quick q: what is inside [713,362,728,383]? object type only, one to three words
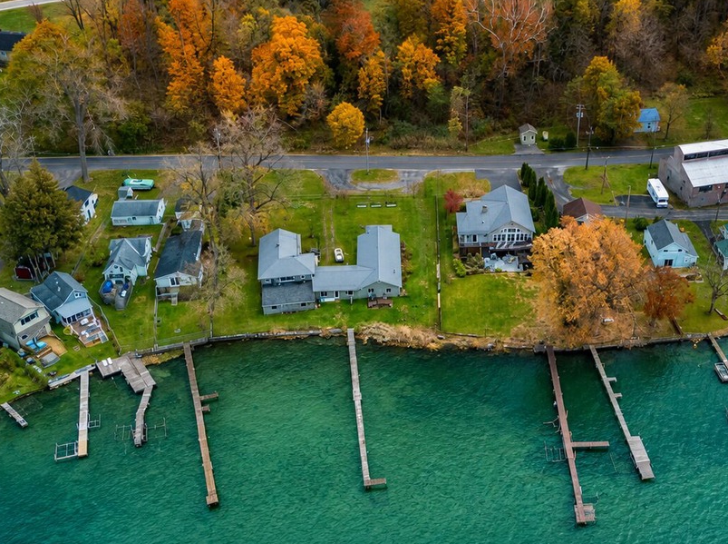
boat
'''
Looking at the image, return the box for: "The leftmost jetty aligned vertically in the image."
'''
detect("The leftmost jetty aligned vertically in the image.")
[76,370,90,461]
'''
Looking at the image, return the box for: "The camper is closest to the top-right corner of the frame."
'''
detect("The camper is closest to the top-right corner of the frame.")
[647,173,669,204]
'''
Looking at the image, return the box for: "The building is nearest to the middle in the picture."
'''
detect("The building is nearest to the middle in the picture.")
[259,225,404,315]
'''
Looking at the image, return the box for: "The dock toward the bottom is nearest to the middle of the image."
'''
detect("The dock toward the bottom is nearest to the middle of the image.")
[346,328,387,491]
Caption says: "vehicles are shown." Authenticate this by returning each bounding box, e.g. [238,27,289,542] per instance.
[647,173,669,204]
[335,246,345,260]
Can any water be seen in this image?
Yes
